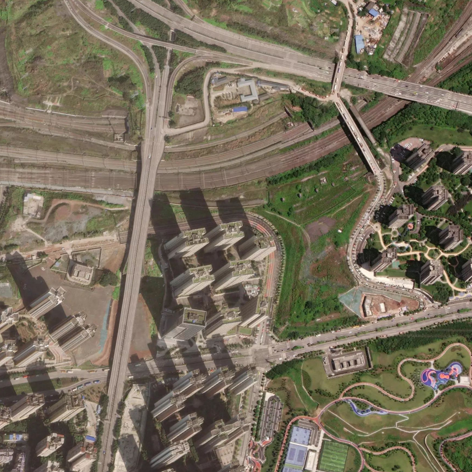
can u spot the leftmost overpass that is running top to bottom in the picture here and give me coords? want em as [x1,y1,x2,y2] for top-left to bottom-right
[99,111,163,472]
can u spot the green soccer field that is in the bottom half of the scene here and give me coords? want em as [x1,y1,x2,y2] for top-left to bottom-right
[318,441,348,472]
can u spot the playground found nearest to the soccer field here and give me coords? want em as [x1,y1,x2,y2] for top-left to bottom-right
[422,362,463,390]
